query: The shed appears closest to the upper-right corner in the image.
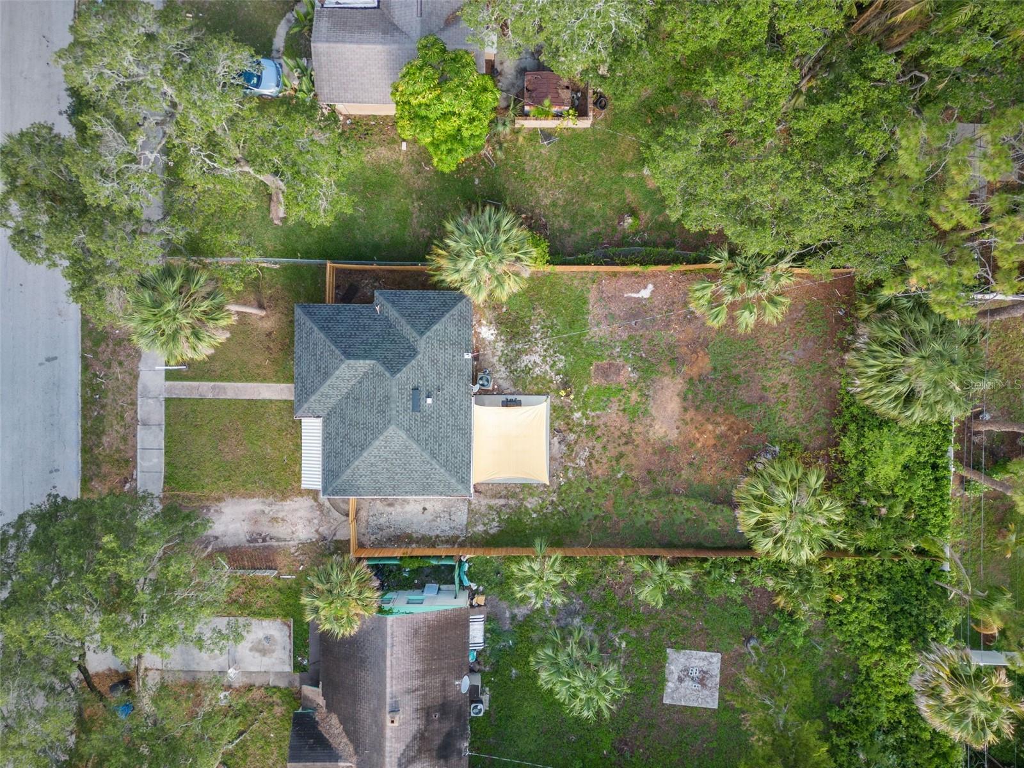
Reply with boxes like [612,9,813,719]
[524,71,572,117]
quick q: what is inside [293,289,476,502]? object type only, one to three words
house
